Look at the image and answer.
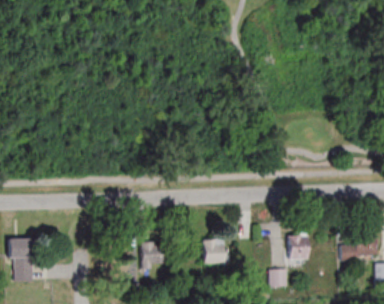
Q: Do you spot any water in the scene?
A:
No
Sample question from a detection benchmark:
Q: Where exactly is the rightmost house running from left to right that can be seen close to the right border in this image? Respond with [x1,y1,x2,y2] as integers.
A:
[340,244,380,261]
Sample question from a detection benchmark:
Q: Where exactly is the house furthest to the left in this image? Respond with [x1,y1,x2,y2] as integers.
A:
[10,238,32,282]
